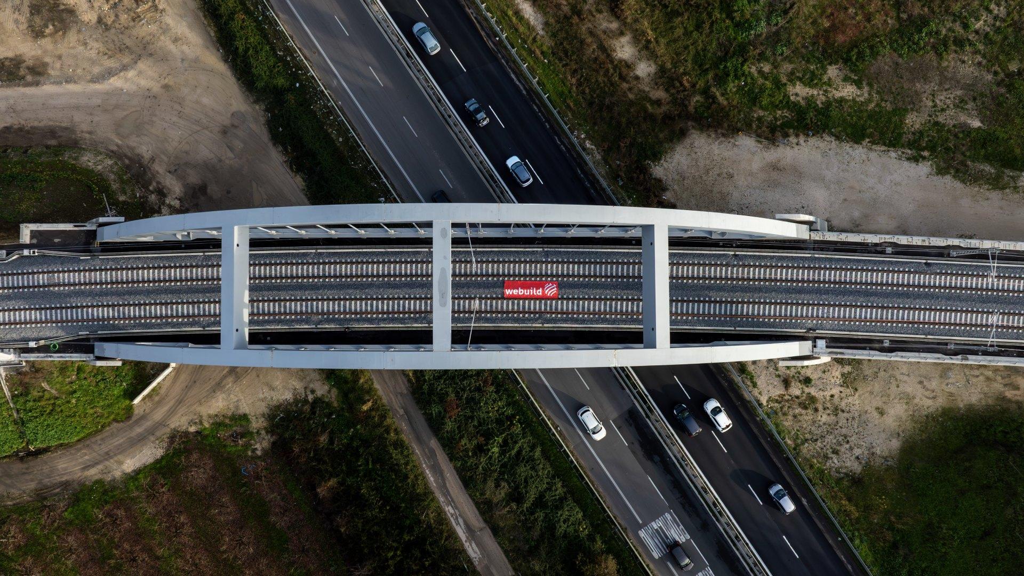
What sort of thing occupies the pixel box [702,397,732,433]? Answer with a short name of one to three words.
car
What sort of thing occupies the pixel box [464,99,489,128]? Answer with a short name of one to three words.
car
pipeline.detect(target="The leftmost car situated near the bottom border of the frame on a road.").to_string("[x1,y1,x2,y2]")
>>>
[666,539,692,571]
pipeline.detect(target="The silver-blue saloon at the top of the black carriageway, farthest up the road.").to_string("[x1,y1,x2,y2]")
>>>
[413,23,441,56]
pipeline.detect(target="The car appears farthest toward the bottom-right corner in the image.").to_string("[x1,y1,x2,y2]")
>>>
[767,481,797,516]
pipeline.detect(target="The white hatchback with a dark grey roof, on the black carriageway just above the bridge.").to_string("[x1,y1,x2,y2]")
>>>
[506,156,533,188]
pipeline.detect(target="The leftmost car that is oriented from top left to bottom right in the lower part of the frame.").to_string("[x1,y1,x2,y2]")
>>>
[576,404,606,440]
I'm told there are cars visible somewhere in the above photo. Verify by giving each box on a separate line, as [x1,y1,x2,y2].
[506,156,533,188]
[430,187,453,204]
[702,397,732,433]
[576,404,606,440]
[672,403,702,438]
[464,99,489,128]
[767,481,797,516]
[666,539,692,571]
[413,23,441,56]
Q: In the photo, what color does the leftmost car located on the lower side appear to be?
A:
white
